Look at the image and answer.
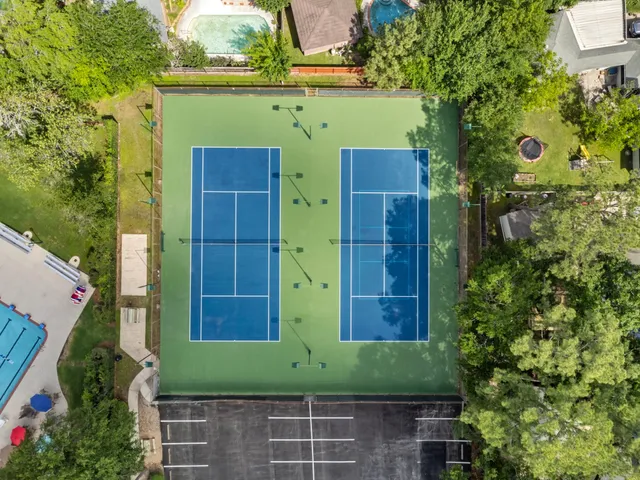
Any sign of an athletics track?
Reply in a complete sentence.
No, there is no athletics track in the image.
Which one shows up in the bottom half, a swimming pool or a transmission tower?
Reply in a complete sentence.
There is a swimming pool in the bottom half.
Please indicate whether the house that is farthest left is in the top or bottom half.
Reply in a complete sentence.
It is in the top half that the house that is farthest left appears.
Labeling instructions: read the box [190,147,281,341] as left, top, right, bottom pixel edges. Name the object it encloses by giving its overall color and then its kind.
blue tennis court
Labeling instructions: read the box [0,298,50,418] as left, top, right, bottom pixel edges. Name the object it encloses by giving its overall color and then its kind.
blue swimming pool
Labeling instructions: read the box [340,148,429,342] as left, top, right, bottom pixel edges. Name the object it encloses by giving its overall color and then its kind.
blue tennis court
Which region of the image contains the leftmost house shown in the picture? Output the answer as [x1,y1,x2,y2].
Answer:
[286,0,360,55]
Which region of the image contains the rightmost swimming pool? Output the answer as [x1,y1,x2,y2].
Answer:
[368,0,414,34]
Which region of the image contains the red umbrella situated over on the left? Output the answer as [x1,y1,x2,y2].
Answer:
[6,425,32,446]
